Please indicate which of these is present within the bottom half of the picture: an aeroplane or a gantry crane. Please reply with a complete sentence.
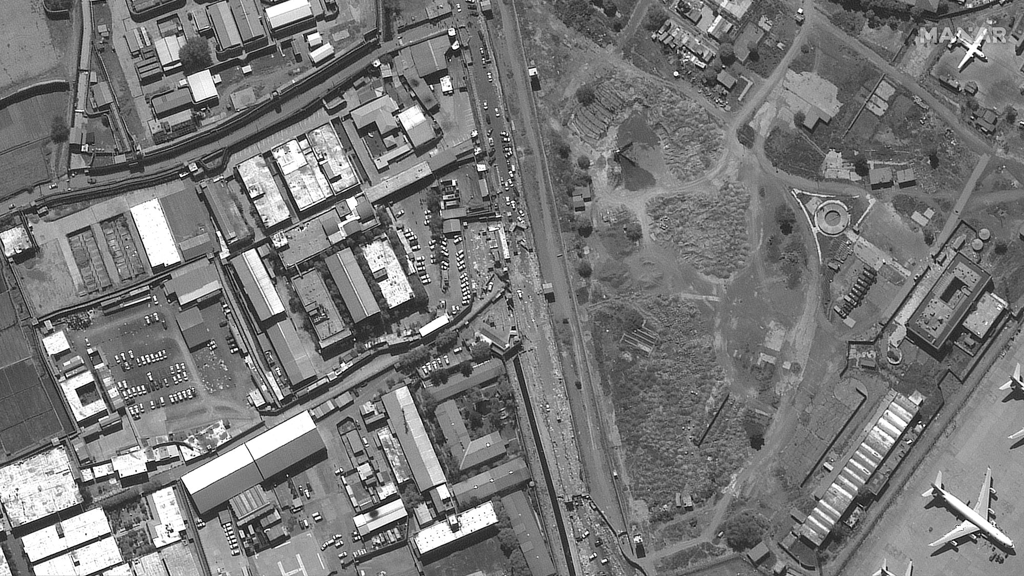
Looking within the bottom half of the picture, you will find an aeroplane.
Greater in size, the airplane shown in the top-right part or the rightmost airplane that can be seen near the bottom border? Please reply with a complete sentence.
Compared with the airplane shown in the top-right part, the rightmost airplane that can be seen near the bottom border is the larger one.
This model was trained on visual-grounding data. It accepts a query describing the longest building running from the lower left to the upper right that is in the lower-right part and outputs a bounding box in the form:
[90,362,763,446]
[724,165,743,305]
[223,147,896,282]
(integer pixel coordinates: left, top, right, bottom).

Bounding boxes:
[800,393,918,547]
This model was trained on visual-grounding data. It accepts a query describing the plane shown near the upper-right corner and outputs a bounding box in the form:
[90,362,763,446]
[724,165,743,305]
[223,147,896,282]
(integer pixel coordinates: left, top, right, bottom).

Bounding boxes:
[952,30,990,70]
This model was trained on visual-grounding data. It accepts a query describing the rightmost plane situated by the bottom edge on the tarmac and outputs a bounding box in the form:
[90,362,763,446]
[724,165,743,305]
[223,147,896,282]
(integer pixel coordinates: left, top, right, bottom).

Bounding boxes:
[921,466,1014,548]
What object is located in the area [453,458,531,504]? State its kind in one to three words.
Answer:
building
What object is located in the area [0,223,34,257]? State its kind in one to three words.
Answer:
house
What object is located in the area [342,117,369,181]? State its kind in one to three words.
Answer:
shed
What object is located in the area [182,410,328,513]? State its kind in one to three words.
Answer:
hangar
